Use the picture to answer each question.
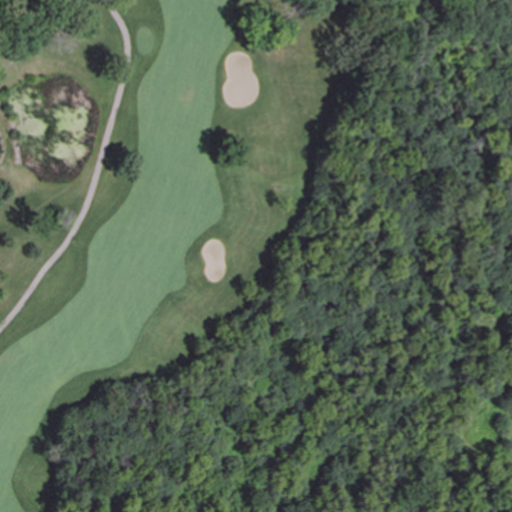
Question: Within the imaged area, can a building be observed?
No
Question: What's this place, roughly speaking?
golf course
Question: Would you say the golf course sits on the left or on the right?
left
